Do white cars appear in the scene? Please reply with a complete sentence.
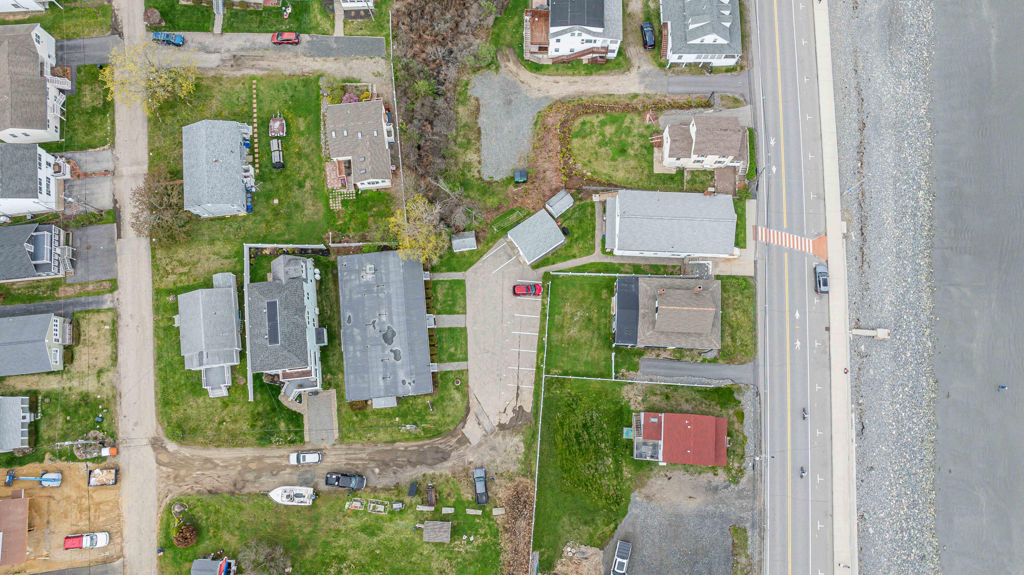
Yes, there's a white car down there.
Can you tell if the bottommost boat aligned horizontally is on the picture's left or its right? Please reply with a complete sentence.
The bottommost boat aligned horizontally is on the left side of the image.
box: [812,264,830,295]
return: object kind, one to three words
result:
car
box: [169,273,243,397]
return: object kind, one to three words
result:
house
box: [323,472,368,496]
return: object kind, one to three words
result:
truck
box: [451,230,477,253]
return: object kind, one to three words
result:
shed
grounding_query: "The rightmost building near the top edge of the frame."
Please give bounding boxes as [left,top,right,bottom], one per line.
[659,0,742,64]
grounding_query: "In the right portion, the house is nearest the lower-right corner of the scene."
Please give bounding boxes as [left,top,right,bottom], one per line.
[622,411,732,467]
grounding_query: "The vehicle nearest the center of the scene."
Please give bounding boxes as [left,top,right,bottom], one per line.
[512,283,543,297]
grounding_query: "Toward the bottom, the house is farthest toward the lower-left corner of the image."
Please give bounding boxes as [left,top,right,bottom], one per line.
[0,487,52,565]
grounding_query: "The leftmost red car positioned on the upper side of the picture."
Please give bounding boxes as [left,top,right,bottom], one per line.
[271,31,302,46]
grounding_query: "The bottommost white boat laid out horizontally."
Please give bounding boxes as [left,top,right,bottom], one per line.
[266,486,318,506]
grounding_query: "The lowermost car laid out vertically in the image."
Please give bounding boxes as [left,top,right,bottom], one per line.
[609,539,631,575]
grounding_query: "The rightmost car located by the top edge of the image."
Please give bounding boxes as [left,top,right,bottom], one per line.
[641,22,656,51]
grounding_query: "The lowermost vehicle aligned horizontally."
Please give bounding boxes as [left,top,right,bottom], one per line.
[62,531,112,550]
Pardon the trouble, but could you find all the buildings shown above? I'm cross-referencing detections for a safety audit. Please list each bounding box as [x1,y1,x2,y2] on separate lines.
[659,0,742,64]
[666,116,752,176]
[546,189,574,218]
[330,81,394,191]
[622,411,732,467]
[501,209,565,272]
[0,487,52,565]
[0,393,35,453]
[0,313,77,376]
[592,186,741,275]
[615,277,721,349]
[524,0,623,66]
[248,258,330,399]
[0,0,61,11]
[451,230,477,253]
[0,24,71,138]
[415,520,451,543]
[0,139,73,209]
[169,273,243,397]
[189,551,243,575]
[0,221,76,285]
[334,0,373,14]
[183,120,258,214]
